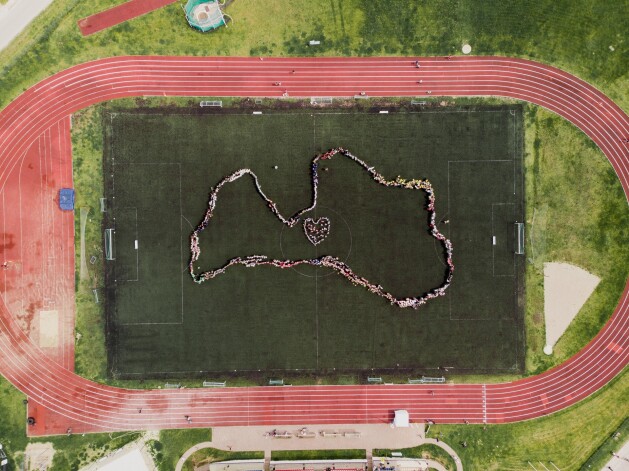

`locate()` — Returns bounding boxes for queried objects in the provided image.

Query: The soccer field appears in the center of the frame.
[106,105,526,380]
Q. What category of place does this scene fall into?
sports ground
